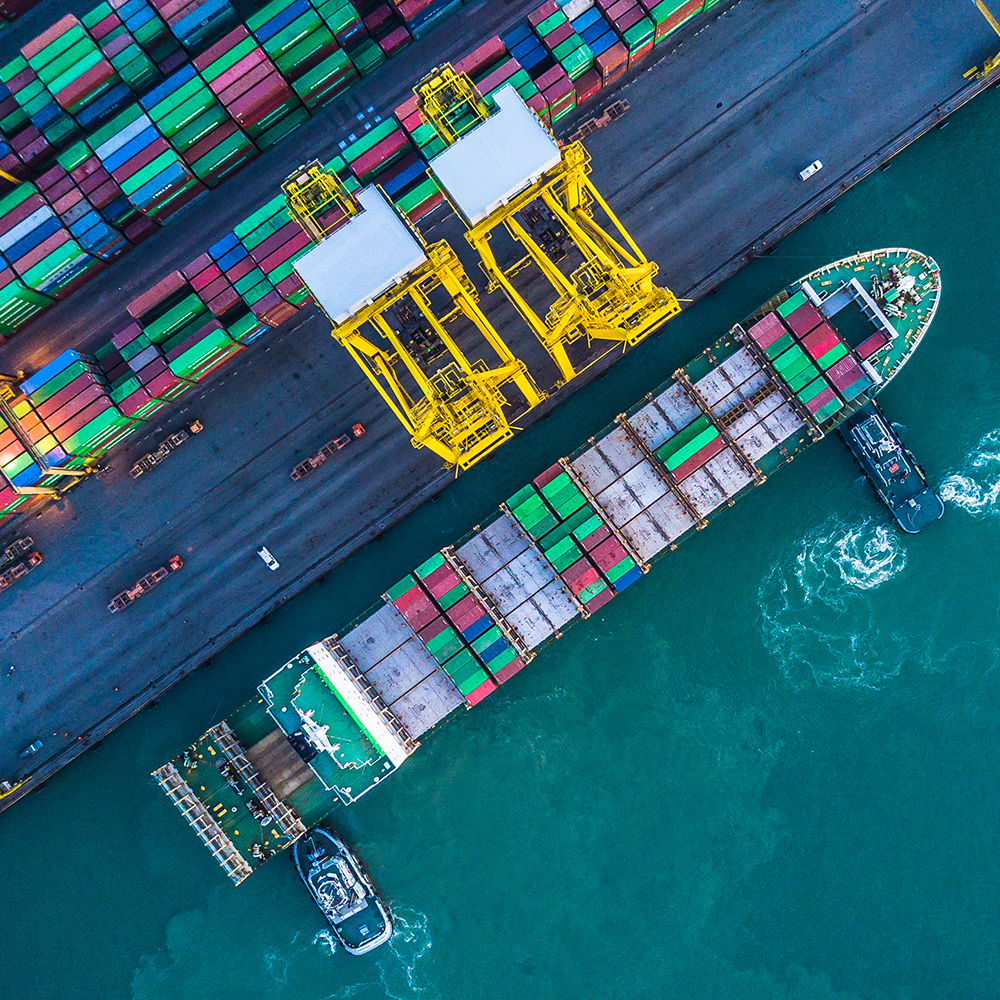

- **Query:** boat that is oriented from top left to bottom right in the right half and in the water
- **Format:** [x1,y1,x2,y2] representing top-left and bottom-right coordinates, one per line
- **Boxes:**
[836,396,952,539]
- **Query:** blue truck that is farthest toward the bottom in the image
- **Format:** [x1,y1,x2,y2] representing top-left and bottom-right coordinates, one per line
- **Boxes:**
[18,736,45,760]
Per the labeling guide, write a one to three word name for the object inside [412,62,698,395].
container crane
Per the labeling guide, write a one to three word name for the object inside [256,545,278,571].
truck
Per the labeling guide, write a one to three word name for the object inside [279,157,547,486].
container crane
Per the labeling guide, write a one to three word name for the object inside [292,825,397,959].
boat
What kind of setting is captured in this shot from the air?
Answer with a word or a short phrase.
port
